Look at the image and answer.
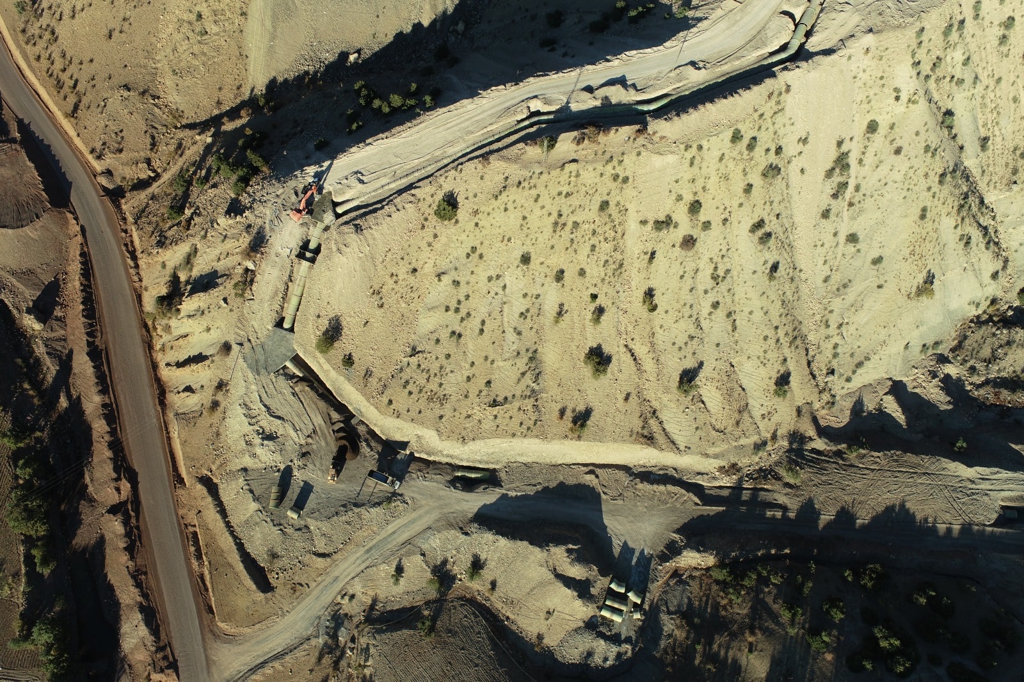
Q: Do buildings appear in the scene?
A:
No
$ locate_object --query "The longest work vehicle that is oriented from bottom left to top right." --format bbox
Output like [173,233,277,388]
[285,172,322,226]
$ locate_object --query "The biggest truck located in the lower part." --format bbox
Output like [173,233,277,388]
[363,469,403,493]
